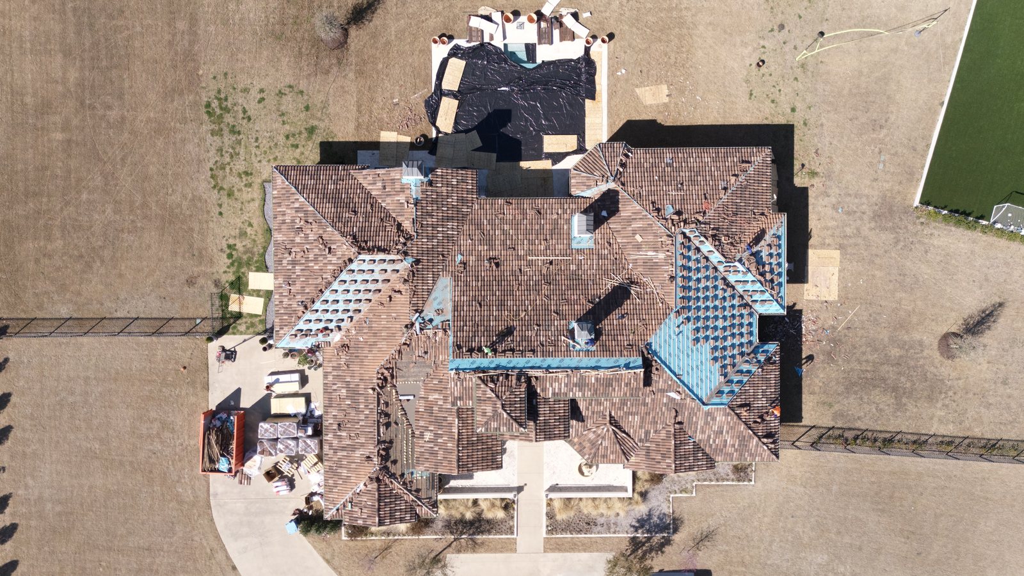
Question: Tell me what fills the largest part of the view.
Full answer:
Most of the picture is covered by grass.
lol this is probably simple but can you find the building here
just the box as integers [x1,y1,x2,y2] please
[271,141,788,528]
